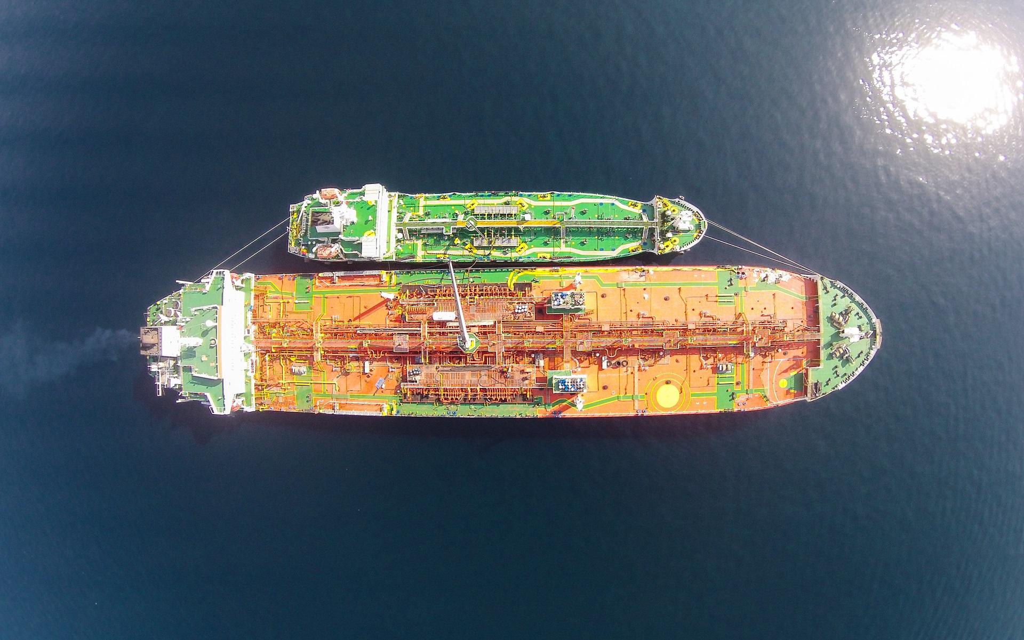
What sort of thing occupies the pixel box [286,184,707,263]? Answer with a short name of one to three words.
ship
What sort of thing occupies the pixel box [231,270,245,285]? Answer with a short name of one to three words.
boat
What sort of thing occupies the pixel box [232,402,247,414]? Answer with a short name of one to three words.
boat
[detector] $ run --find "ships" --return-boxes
[138,259,883,417]
[286,184,707,263]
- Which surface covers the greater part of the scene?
water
